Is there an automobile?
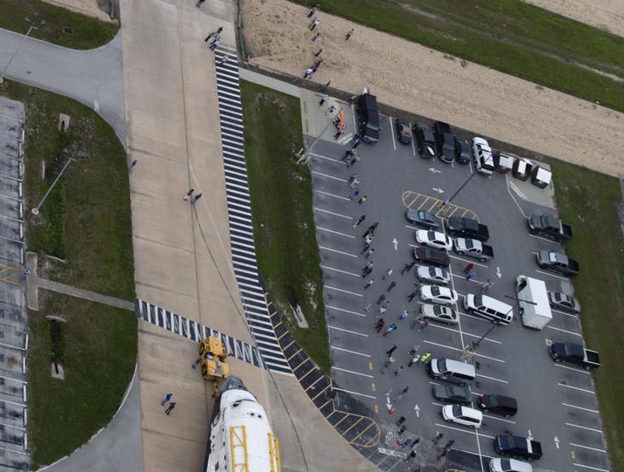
Yes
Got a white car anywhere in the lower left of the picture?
No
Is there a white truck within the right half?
Yes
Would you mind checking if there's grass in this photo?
Yes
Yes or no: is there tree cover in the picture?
No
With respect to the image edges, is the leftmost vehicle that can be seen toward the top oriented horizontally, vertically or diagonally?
vertically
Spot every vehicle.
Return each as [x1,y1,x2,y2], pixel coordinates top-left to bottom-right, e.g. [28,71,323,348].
[488,456,531,472]
[535,252,578,277]
[431,383,472,406]
[440,403,484,429]
[403,207,441,230]
[476,394,517,419]
[392,114,412,149]
[418,283,457,307]
[444,217,489,243]
[430,356,473,383]
[413,229,452,251]
[432,122,455,164]
[355,96,379,143]
[469,140,493,174]
[453,133,473,168]
[514,282,555,343]
[411,244,452,269]
[527,216,571,241]
[413,264,451,287]
[412,122,433,160]
[419,303,458,327]
[551,342,597,370]
[493,434,541,461]
[451,238,495,264]
[197,329,229,388]
[463,296,514,323]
